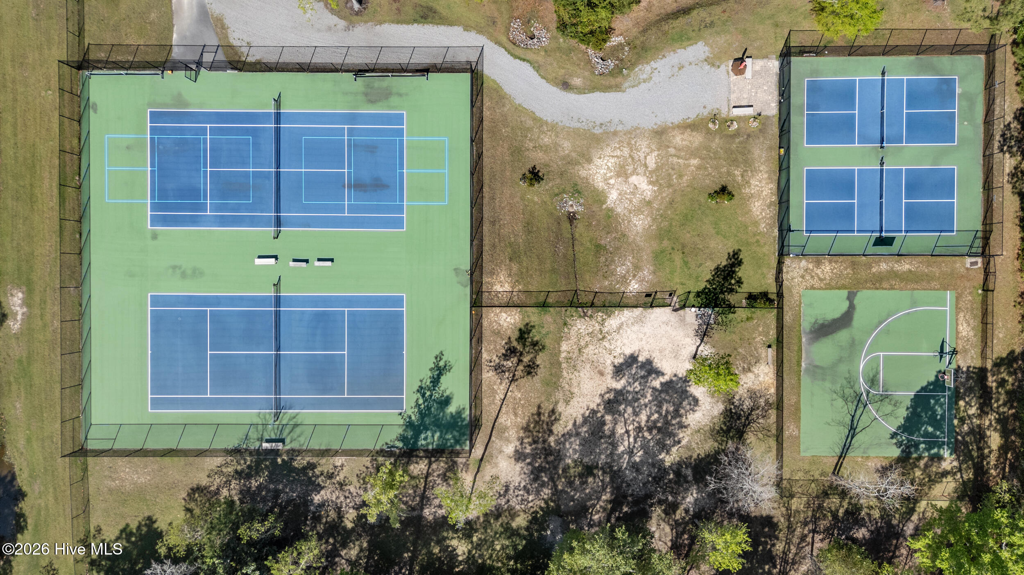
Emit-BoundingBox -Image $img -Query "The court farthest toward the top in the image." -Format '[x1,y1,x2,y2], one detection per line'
[779,55,985,156]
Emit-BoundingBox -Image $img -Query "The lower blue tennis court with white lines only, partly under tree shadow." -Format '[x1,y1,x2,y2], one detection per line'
[81,262,470,450]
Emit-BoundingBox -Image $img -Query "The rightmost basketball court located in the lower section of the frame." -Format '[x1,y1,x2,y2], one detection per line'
[801,290,956,457]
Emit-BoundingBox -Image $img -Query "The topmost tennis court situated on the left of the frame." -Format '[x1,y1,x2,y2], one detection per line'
[80,72,470,262]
